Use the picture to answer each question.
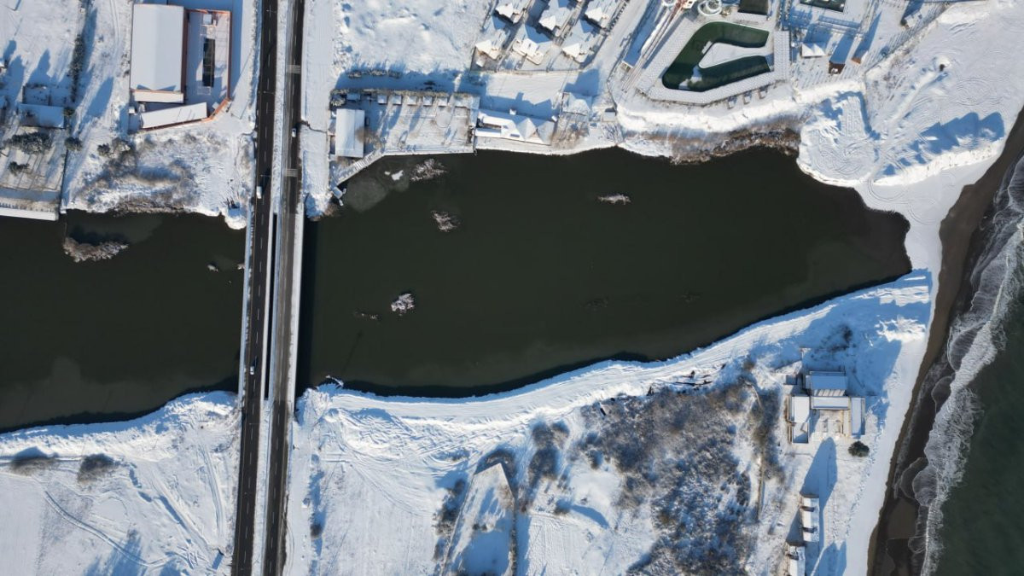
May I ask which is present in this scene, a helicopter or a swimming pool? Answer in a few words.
swimming pool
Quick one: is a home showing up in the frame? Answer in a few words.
Yes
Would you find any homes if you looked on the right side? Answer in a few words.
Yes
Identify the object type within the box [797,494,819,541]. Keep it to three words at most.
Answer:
building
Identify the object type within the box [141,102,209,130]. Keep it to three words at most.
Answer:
shed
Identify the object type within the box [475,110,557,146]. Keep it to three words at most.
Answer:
house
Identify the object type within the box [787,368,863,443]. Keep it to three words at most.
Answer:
house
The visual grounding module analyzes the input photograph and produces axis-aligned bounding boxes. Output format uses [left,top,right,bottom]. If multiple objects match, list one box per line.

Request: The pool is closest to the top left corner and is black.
[202,37,216,87]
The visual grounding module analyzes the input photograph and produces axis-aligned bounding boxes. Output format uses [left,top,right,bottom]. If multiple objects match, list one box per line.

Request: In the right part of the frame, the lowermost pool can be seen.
[660,18,774,95]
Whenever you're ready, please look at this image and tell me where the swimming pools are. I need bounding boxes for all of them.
[202,37,216,87]
[734,0,771,18]
[660,18,774,95]
[797,0,848,16]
